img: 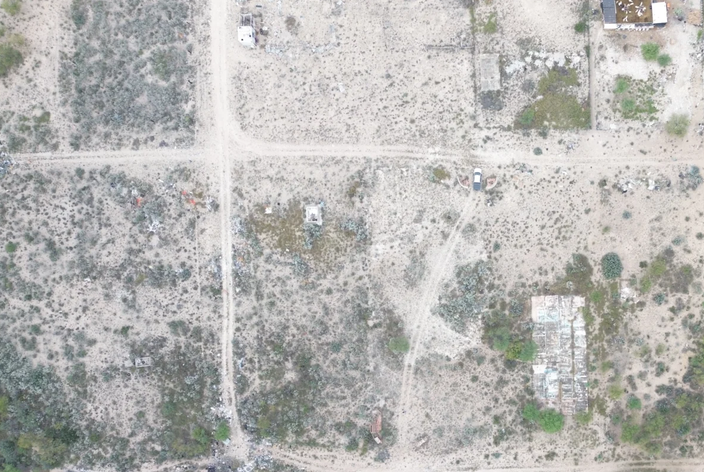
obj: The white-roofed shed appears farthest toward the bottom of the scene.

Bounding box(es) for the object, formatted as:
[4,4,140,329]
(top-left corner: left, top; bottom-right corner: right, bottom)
[237,26,255,46]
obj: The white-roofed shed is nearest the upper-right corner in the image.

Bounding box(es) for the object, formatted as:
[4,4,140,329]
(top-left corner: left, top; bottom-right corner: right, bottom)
[650,2,668,26]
